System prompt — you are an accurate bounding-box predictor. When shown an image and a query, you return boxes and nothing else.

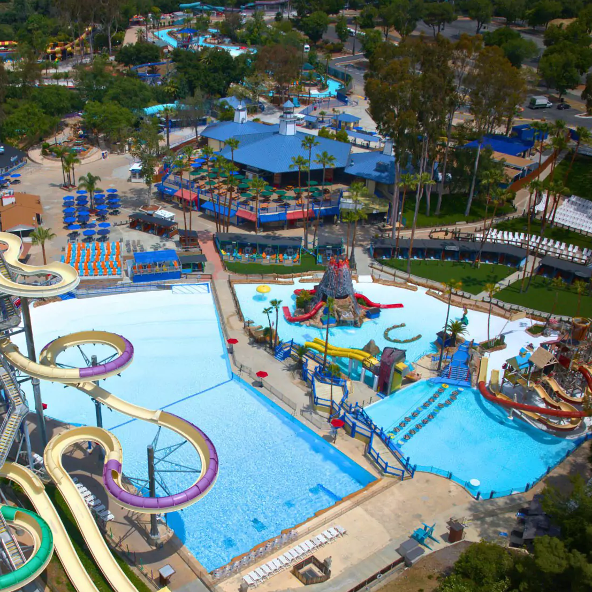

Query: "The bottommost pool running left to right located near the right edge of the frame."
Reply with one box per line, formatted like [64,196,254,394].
[365,380,592,497]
